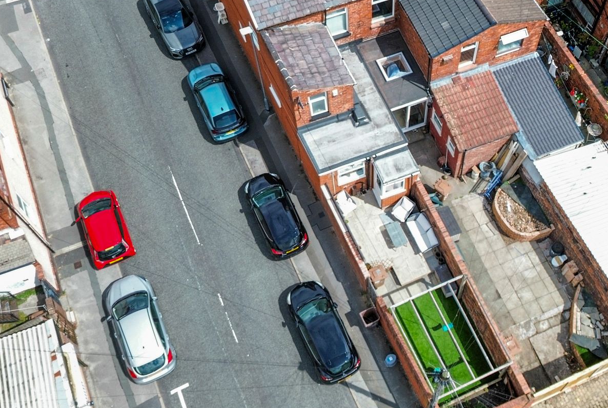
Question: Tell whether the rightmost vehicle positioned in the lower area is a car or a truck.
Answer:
car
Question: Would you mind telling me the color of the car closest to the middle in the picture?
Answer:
black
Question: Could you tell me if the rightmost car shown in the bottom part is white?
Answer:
No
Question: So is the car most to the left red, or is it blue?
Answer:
red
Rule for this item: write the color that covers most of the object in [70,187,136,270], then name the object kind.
red car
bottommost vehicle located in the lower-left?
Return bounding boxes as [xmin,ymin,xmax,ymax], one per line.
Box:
[101,273,180,384]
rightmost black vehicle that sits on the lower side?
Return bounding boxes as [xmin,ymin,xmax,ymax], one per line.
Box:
[284,278,363,385]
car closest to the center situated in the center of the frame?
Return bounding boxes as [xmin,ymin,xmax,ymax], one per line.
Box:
[240,169,310,261]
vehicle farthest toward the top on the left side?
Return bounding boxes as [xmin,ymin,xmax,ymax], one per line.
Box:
[144,0,206,62]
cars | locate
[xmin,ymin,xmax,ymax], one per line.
[240,169,310,261]
[144,0,206,62]
[184,62,248,144]
[70,187,136,270]
[284,278,363,385]
[101,273,180,384]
